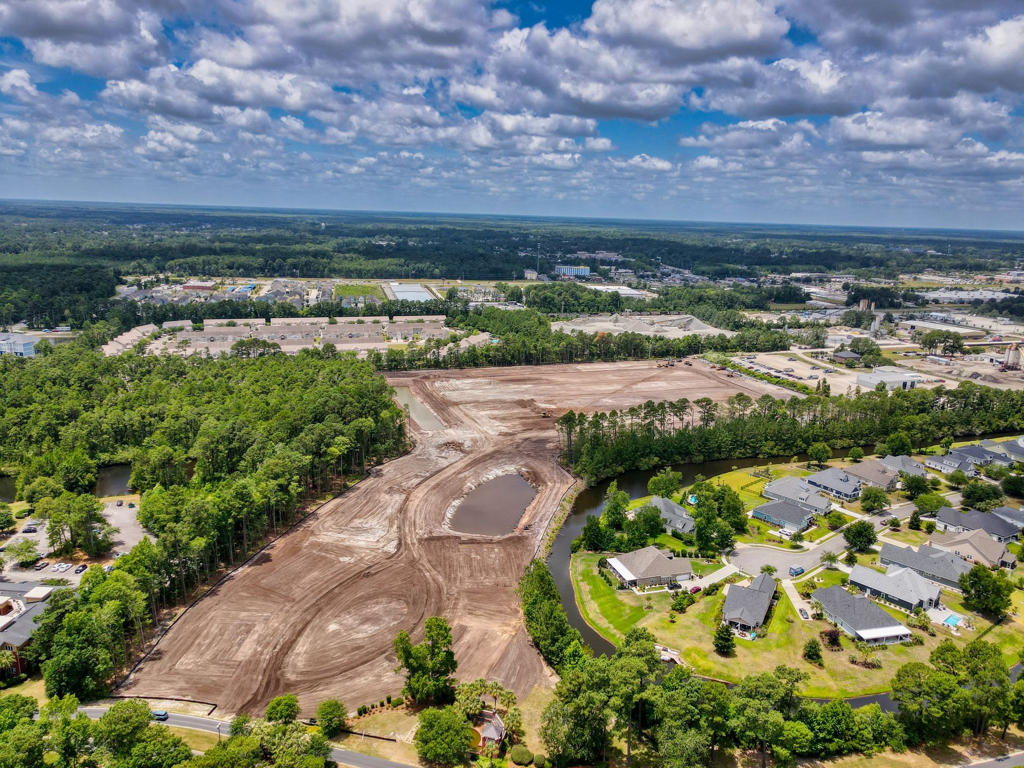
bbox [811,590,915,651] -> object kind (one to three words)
house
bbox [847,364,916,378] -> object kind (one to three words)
shed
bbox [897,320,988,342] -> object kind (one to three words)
building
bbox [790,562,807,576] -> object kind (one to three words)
vehicle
